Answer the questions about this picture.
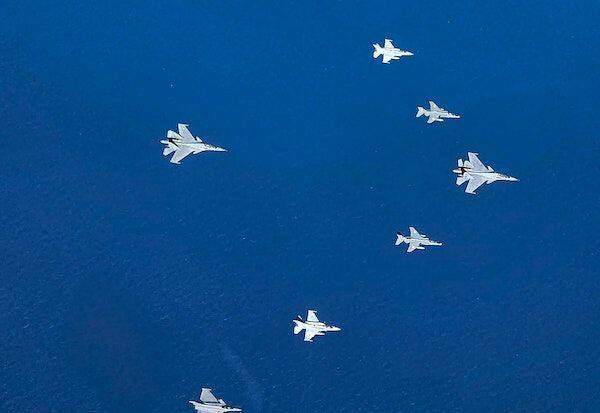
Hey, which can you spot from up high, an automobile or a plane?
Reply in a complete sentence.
It is a plane that can be seen here.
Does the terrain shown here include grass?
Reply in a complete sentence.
No, the scene doesn't show any grass.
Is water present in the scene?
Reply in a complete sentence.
Yes, water shows up in the scene.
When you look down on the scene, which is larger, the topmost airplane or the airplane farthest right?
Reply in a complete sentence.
The larger object is the airplane farthest right, with the topmost airplane being the smaller of the pair.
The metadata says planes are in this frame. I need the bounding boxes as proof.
[161,124,227,163]
[453,153,521,194]
[395,227,443,252]
[416,101,460,123]
[189,388,242,413]
[293,310,340,342]
[373,39,414,64]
